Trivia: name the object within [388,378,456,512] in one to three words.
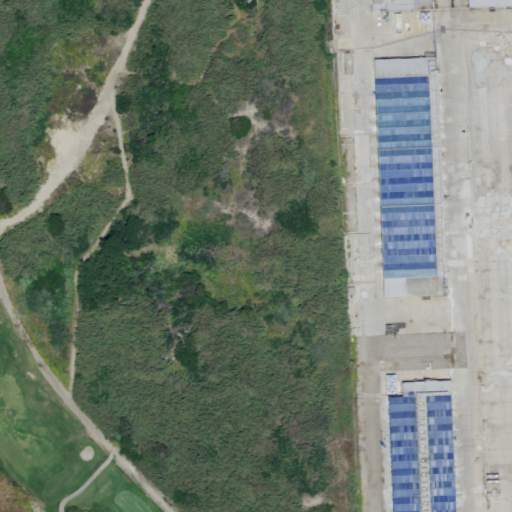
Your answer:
building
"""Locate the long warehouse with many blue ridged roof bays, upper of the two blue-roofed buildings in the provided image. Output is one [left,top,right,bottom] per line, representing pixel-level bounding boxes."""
[374,58,446,296]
